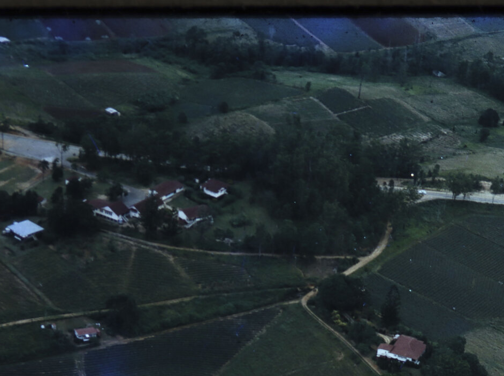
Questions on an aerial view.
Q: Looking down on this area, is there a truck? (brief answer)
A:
No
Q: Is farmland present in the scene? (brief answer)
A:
Yes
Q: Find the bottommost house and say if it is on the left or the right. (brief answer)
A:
right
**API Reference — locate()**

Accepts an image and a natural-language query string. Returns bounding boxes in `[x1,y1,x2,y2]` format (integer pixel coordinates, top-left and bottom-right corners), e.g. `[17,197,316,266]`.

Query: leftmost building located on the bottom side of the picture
[7,218,48,241]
